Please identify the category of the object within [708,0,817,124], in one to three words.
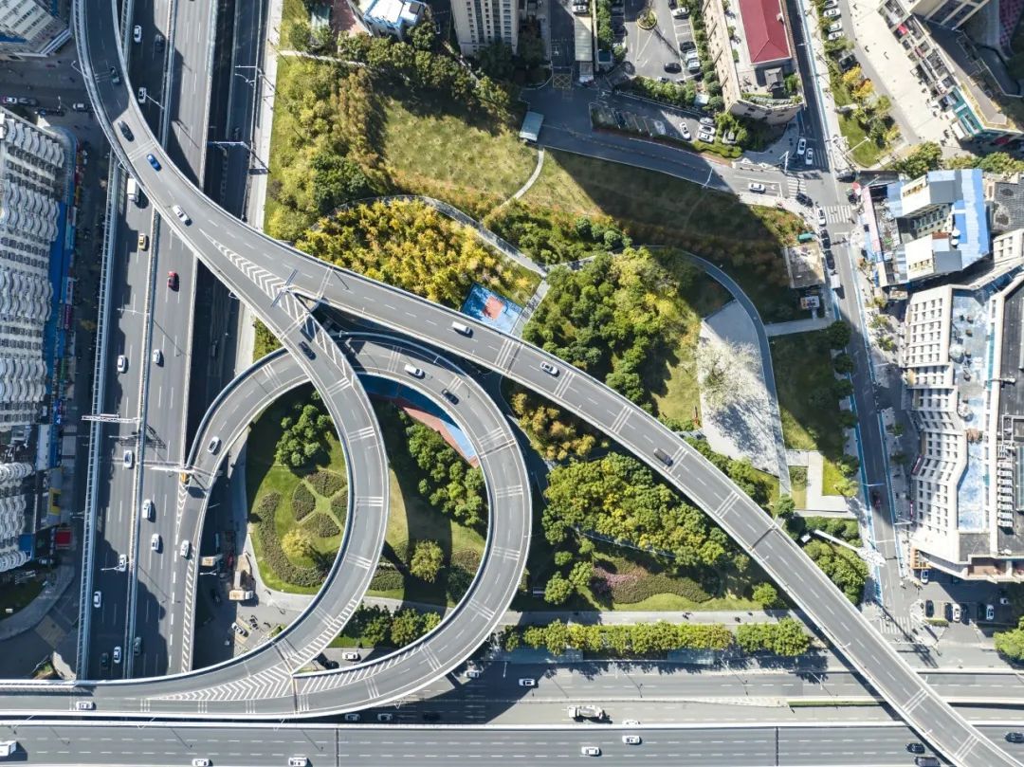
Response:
building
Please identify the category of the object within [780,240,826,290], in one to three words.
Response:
shed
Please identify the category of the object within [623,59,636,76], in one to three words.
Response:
vehicle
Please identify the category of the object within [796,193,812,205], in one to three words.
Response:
vehicle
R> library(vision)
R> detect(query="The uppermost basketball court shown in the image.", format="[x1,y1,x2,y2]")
[459,285,522,337]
